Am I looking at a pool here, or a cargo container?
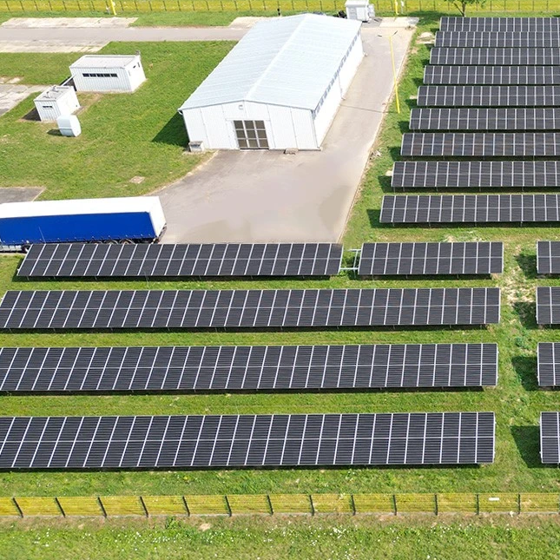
cargo container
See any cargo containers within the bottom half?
No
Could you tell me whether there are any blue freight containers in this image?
No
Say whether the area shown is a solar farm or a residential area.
solar farm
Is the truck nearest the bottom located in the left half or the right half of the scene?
left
